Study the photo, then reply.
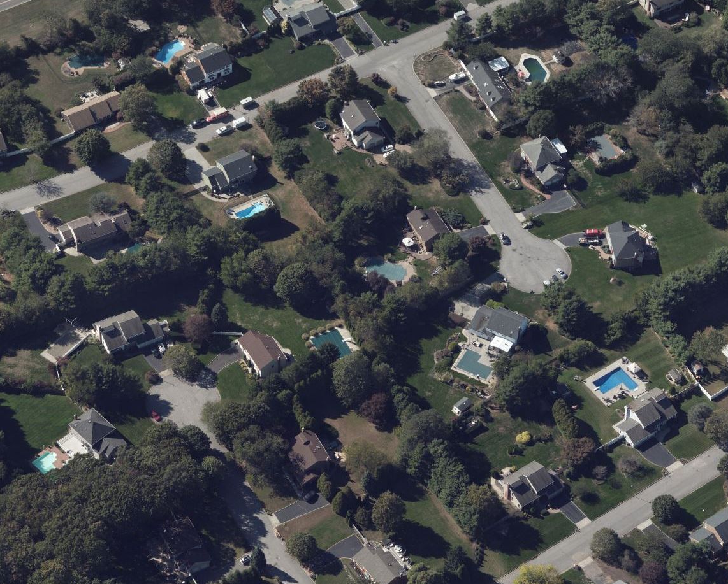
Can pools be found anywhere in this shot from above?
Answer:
Yes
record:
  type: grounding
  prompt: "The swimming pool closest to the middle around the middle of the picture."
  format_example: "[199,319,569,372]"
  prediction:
[367,259,408,281]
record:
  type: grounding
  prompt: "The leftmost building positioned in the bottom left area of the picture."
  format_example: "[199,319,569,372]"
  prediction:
[69,410,122,465]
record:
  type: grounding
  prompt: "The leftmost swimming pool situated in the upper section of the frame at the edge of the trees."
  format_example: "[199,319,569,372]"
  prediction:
[69,53,106,69]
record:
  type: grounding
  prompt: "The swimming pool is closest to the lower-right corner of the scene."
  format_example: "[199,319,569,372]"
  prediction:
[593,367,640,394]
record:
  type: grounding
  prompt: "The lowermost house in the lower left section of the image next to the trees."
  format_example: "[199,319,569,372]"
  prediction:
[155,522,210,579]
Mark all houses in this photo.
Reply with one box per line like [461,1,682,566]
[467,306,534,351]
[207,153,256,195]
[69,410,122,465]
[503,466,565,515]
[56,211,128,251]
[519,135,562,190]
[356,541,406,584]
[288,428,330,490]
[409,207,452,250]
[696,510,728,559]
[237,327,287,379]
[155,522,210,579]
[459,62,512,113]
[338,99,385,152]
[618,396,678,451]
[179,44,232,88]
[602,221,644,269]
[285,4,331,43]
[61,88,127,136]
[92,314,165,357]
